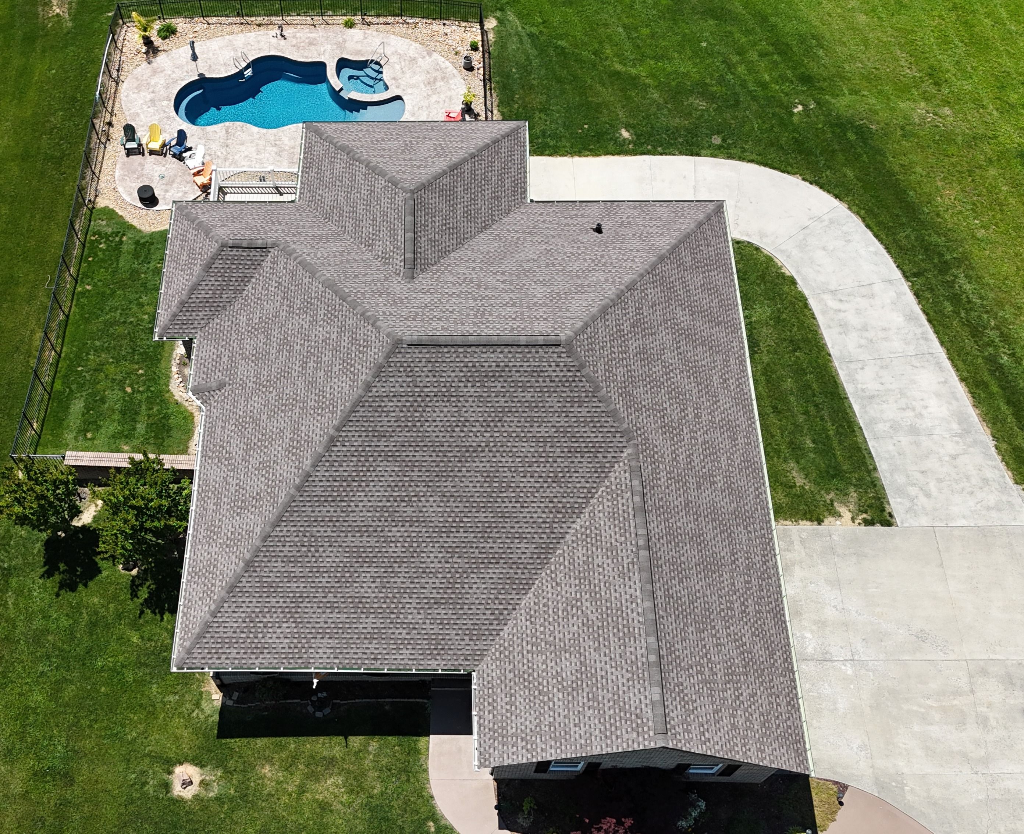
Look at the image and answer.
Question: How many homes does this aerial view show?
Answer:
one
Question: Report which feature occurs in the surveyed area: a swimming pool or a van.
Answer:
swimming pool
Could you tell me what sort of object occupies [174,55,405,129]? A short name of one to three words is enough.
swimming pool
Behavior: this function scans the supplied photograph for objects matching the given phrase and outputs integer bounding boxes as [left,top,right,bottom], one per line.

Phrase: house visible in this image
[152,119,815,783]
